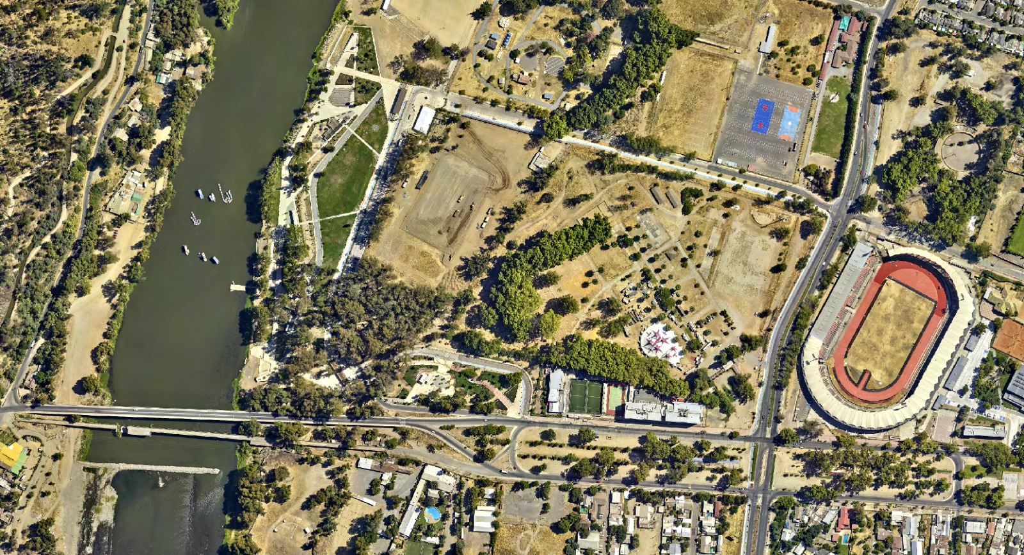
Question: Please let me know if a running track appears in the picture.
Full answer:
Yes, a running track can be made out from above.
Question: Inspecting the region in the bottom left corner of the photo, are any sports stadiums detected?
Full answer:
No, in the bottom left corner of the photo there is no sports stadium.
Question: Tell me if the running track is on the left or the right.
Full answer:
You can find the running track on the right side of the picture.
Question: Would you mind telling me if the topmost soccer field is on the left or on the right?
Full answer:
The topmost soccer field sits on the right side.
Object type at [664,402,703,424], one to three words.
building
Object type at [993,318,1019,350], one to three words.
tennis court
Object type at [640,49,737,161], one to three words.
soccer field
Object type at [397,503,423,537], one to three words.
house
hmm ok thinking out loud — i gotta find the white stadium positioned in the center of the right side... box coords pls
[802,242,979,431]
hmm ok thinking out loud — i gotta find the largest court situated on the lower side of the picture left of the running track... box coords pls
[606,383,625,414]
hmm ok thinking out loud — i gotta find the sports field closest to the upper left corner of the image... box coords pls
[406,157,490,253]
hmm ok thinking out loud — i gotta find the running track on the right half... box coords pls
[830,259,948,407]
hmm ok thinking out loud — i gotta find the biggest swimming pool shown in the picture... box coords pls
[424,506,441,523]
